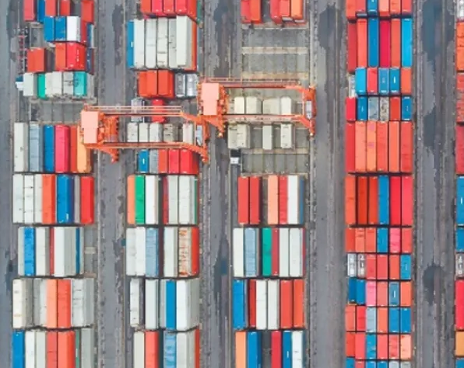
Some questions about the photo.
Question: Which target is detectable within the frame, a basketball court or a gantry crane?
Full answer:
Visible in the photo is a gantry crane.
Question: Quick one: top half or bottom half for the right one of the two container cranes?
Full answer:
The right one of the two container cranes is in the top half of the image.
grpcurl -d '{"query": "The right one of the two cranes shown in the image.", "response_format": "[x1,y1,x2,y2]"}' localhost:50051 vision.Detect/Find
[196,78,317,137]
